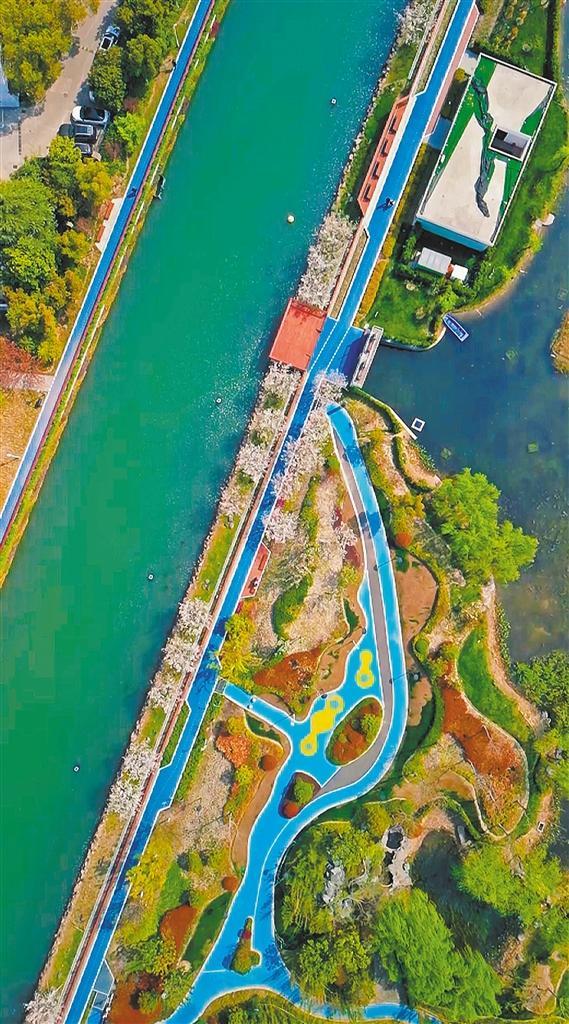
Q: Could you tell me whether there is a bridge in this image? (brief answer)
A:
Yes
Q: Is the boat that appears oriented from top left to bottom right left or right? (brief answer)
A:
right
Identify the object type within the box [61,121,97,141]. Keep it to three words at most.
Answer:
car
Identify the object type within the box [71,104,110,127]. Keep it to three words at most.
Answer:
car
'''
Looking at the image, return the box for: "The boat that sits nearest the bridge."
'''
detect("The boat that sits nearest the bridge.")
[446,316,469,342]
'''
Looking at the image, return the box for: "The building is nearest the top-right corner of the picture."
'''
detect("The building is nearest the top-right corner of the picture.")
[413,53,557,254]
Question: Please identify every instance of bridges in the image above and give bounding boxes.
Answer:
[350,328,382,390]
